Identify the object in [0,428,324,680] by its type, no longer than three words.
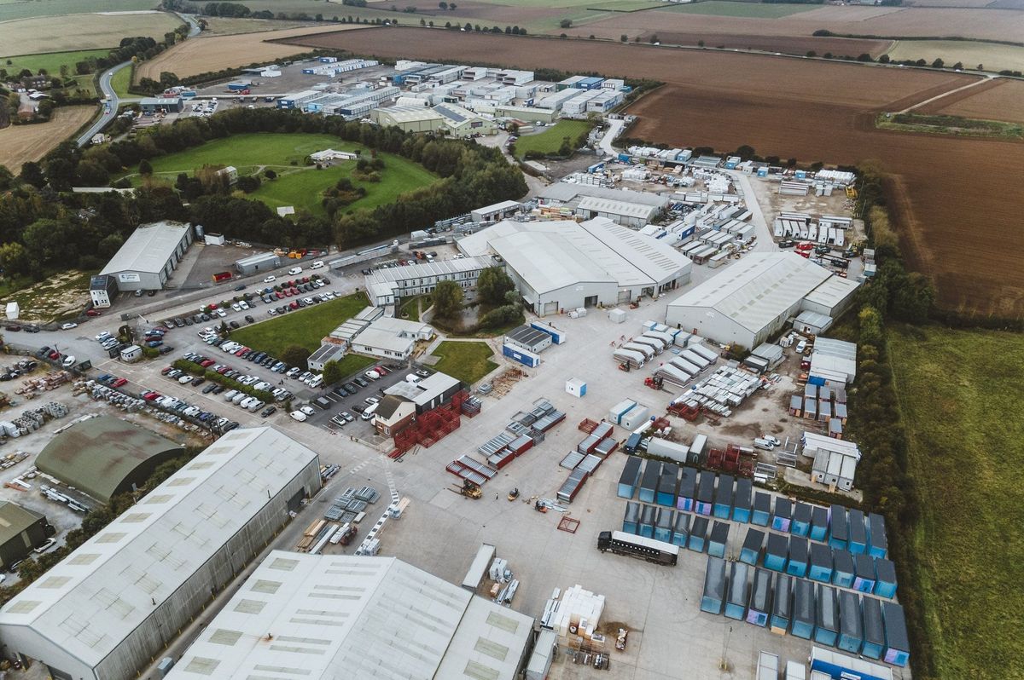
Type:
warehouse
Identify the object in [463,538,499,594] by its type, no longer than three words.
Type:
trailer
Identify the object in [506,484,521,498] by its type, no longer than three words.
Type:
work vehicle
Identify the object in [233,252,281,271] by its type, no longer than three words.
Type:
building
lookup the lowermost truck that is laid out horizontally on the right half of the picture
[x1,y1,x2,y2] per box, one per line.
[599,534,680,570]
